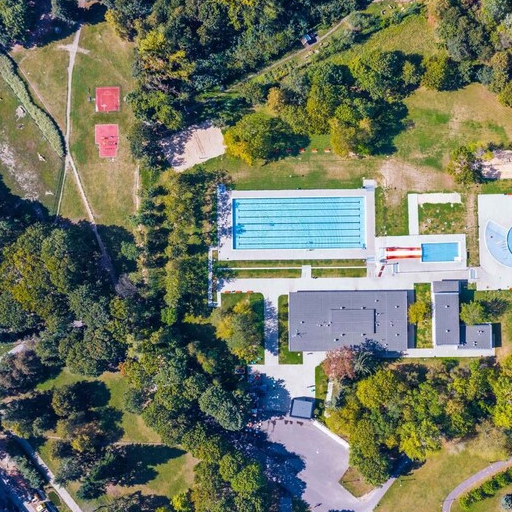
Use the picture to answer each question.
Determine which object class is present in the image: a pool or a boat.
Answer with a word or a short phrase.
pool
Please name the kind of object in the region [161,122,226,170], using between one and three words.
sports court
